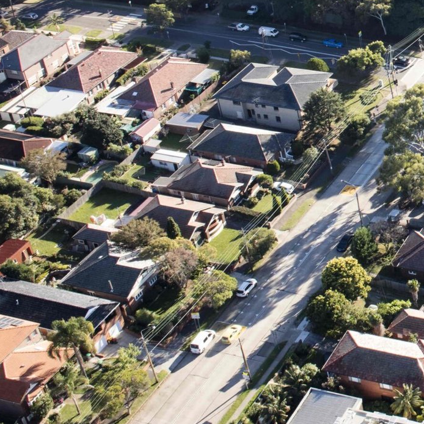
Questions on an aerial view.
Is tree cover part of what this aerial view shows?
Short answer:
Yes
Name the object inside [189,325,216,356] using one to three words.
vehicle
